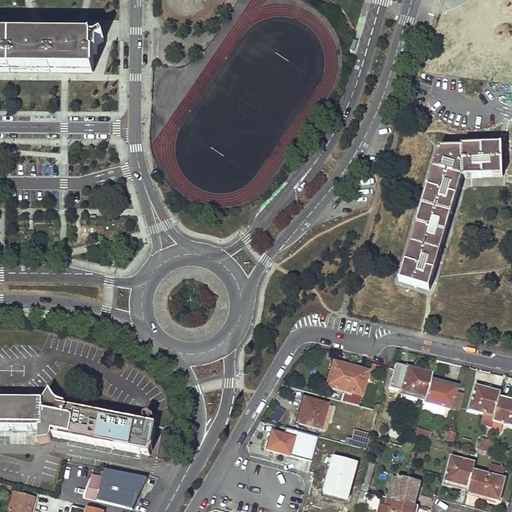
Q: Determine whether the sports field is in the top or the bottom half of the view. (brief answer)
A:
top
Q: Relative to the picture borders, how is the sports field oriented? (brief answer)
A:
diagonally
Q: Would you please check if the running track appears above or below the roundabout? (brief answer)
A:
above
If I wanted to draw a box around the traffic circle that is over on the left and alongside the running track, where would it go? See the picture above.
[114,228,268,370]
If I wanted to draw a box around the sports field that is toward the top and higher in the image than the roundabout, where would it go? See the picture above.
[174,16,324,193]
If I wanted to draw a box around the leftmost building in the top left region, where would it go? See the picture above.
[0,22,92,72]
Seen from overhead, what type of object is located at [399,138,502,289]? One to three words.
building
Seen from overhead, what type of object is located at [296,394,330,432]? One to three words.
house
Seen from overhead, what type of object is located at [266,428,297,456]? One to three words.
house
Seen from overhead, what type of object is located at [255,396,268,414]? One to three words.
vehicle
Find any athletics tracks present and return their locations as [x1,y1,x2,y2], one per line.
[153,0,336,204]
